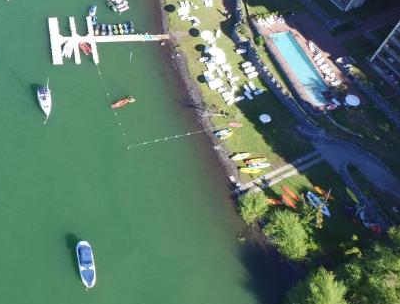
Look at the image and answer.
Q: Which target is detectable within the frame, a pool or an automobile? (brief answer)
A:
pool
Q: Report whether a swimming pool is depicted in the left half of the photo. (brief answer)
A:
No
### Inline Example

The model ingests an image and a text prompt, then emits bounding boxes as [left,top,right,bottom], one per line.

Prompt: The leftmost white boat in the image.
[38,78,52,121]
